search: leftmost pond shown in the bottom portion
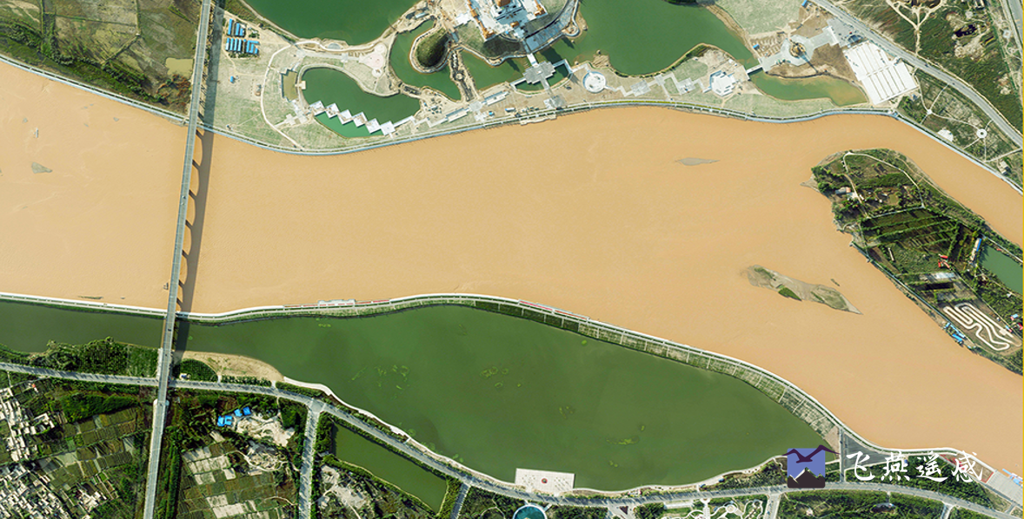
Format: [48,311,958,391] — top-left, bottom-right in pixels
[333,424,446,512]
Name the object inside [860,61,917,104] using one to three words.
greenhouse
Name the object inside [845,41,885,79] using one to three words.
greenhouse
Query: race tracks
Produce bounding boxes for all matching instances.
[942,302,1023,352]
